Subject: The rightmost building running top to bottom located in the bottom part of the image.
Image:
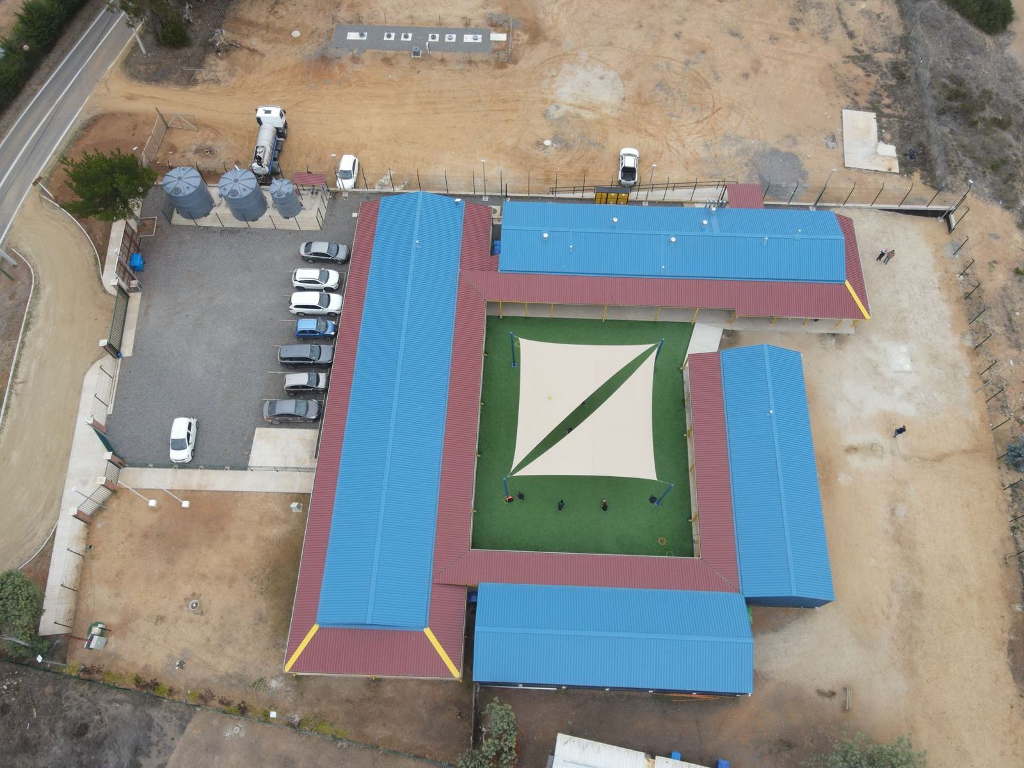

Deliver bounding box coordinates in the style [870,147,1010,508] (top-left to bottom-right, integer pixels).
[681,343,837,609]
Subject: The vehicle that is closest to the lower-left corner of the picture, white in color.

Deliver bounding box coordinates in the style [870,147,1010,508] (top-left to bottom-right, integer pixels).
[166,417,201,465]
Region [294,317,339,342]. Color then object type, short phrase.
blue car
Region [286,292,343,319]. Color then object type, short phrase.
white car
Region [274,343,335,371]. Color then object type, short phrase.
gray car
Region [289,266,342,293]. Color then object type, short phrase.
white car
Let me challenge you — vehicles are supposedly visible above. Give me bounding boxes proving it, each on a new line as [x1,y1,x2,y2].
[263,398,323,426]
[286,292,343,319]
[166,417,201,465]
[255,106,295,180]
[333,152,361,193]
[298,241,351,266]
[289,266,342,293]
[618,147,641,191]
[294,317,339,342]
[282,371,331,397]
[274,343,335,371]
